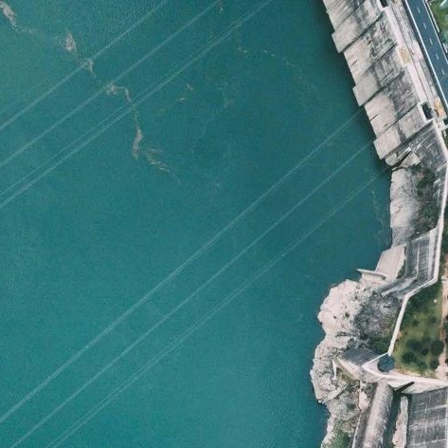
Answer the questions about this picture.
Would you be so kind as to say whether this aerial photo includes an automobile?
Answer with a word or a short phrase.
No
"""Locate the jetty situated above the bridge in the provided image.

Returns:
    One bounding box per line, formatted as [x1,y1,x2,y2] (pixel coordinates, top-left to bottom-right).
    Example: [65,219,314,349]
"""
[357,268,388,284]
